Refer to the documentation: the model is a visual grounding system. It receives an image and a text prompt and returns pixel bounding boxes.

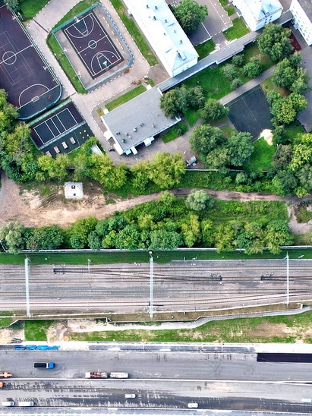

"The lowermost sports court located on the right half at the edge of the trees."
[224,84,275,134]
